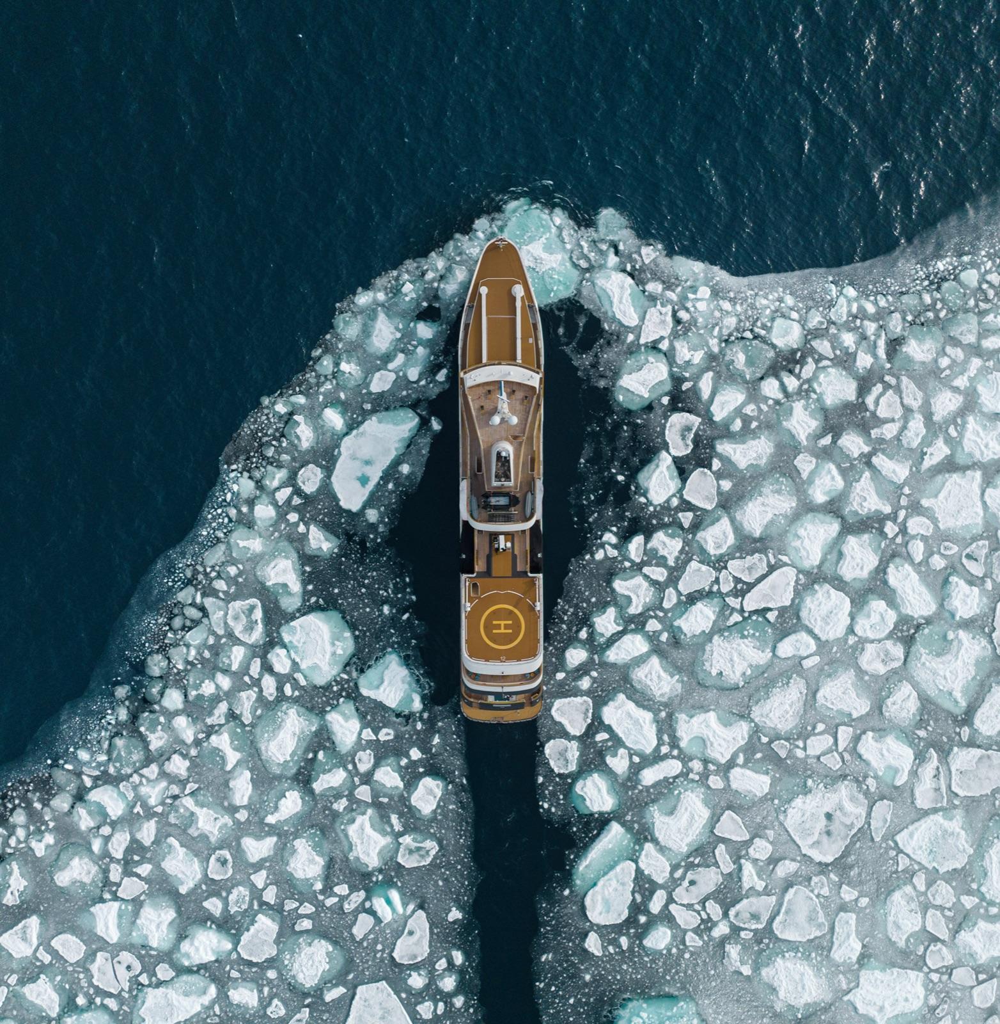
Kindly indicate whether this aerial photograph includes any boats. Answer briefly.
Yes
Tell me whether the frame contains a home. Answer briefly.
No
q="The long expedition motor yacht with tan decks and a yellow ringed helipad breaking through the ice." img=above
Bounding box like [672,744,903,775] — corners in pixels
[459,236,544,722]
